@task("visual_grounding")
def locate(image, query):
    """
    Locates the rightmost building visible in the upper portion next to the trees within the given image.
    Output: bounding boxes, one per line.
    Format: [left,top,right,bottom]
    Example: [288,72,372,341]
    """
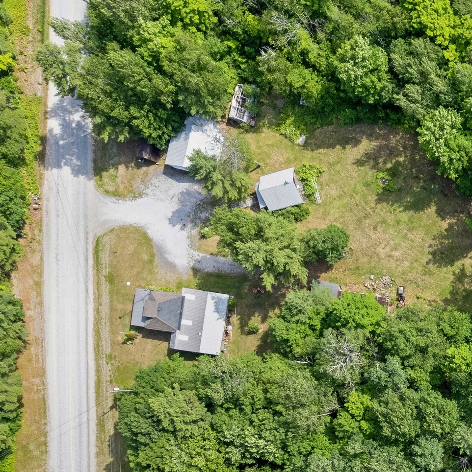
[255,168,305,210]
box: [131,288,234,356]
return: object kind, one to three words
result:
house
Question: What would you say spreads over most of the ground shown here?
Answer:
trees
